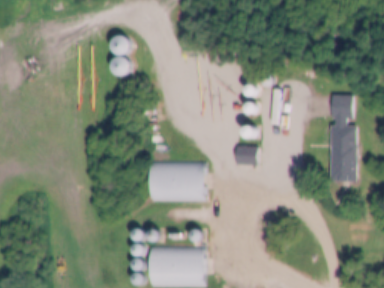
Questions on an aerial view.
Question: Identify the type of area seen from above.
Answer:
industrial area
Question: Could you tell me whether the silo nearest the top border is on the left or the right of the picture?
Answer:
left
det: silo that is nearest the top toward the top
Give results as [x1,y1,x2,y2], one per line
[108,34,136,56]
